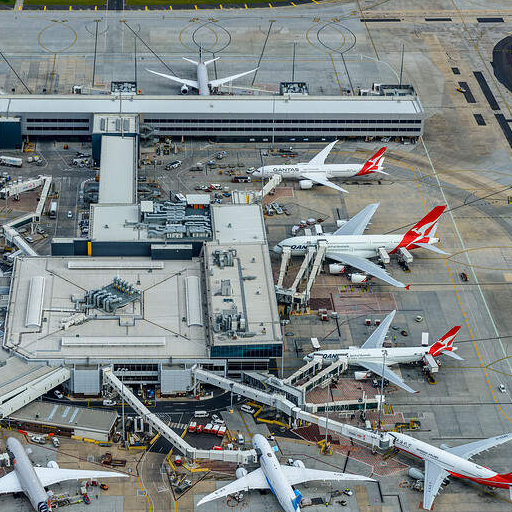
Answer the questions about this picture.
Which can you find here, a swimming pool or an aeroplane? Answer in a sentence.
It is an aeroplane that can be seen here.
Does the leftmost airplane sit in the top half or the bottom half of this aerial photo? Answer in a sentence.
It is in the bottom half that the leftmost airplane appears.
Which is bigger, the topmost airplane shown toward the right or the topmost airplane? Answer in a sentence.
The topmost airplane shown toward the right takes up more space than the topmost airplane does.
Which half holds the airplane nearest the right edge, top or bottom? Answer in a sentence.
The airplane nearest the right edge is in the bottom half of the image.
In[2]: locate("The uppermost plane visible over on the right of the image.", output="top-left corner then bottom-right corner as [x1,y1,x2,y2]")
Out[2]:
[252,139,392,191]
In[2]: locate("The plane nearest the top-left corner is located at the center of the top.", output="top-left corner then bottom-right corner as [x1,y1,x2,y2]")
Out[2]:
[146,38,258,94]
